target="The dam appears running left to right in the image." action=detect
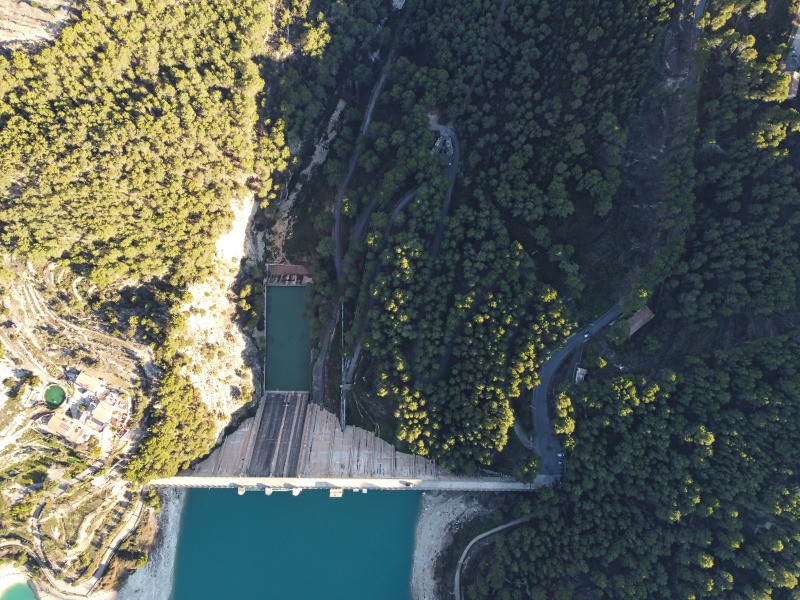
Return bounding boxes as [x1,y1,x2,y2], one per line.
[148,391,548,498]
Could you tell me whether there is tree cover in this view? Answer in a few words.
Yes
